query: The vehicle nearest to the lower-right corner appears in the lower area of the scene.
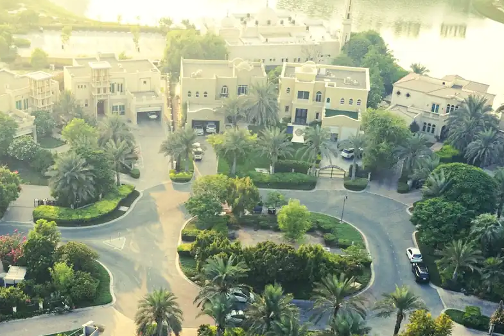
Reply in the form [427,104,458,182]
[410,262,432,281]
